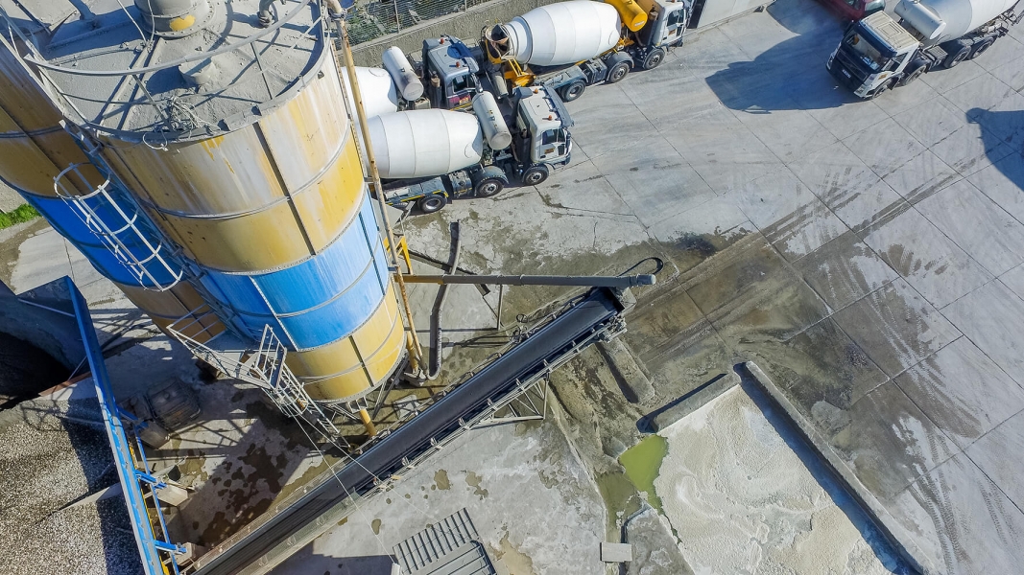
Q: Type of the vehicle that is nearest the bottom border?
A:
truck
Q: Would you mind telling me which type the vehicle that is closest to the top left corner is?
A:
truck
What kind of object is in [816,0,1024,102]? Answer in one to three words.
truck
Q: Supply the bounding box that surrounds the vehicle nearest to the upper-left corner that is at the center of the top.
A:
[334,34,481,124]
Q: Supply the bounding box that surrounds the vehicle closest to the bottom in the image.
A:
[354,83,577,220]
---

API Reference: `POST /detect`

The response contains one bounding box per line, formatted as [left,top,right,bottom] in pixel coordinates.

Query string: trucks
[816,0,1024,102]
[354,83,577,220]
[334,34,481,124]
[476,0,694,104]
